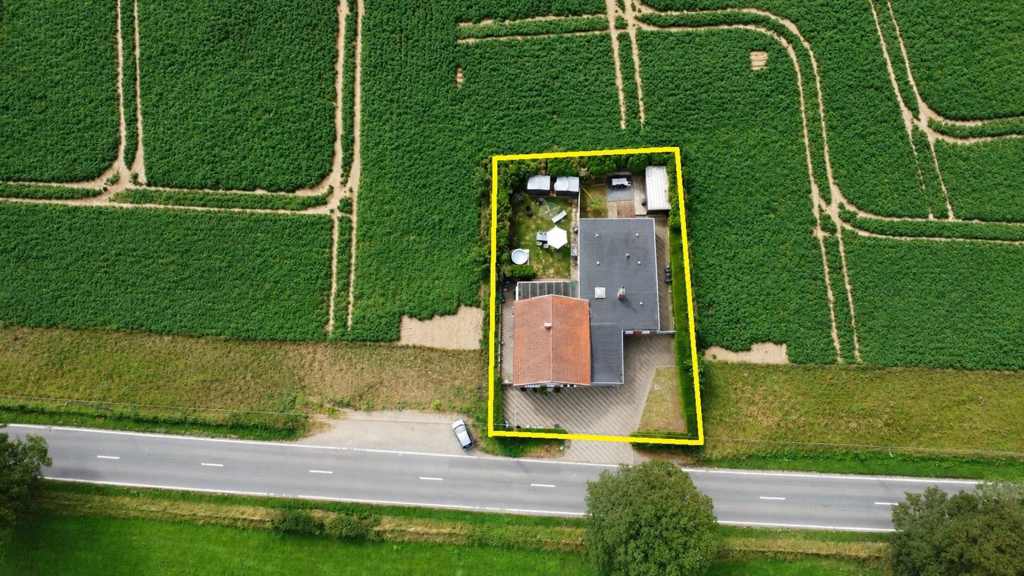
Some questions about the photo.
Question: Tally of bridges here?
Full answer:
There are no bridges in this view.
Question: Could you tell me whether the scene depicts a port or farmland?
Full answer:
This image shows farmland.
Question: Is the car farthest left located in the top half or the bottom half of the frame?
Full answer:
It is in the bottom half that the car farthest left appears.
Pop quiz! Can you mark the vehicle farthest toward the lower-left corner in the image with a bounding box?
[452,419,474,454]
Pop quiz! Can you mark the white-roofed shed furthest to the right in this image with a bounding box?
[644,166,670,216]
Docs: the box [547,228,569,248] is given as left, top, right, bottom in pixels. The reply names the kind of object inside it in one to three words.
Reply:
umbrella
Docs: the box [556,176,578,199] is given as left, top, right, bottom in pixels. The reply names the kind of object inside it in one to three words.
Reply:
shed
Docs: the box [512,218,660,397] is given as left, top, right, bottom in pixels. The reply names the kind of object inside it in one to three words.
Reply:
house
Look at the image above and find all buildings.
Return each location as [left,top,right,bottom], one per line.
[556,176,578,199]
[512,218,660,397]
[644,166,670,216]
[527,174,550,198]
